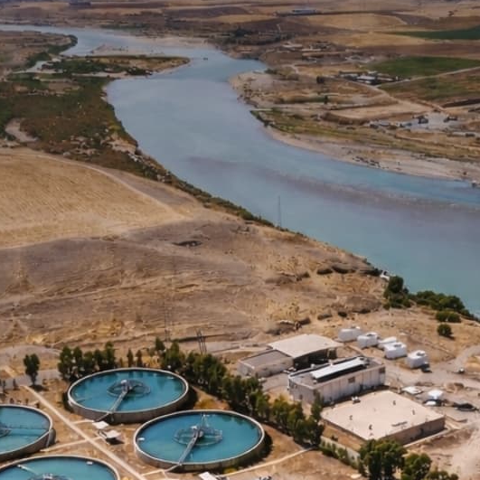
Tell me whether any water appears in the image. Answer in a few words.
Yes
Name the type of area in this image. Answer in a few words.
industrial area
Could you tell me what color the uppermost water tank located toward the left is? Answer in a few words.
blue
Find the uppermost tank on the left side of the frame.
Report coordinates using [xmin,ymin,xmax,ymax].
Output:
[68,369,189,430]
